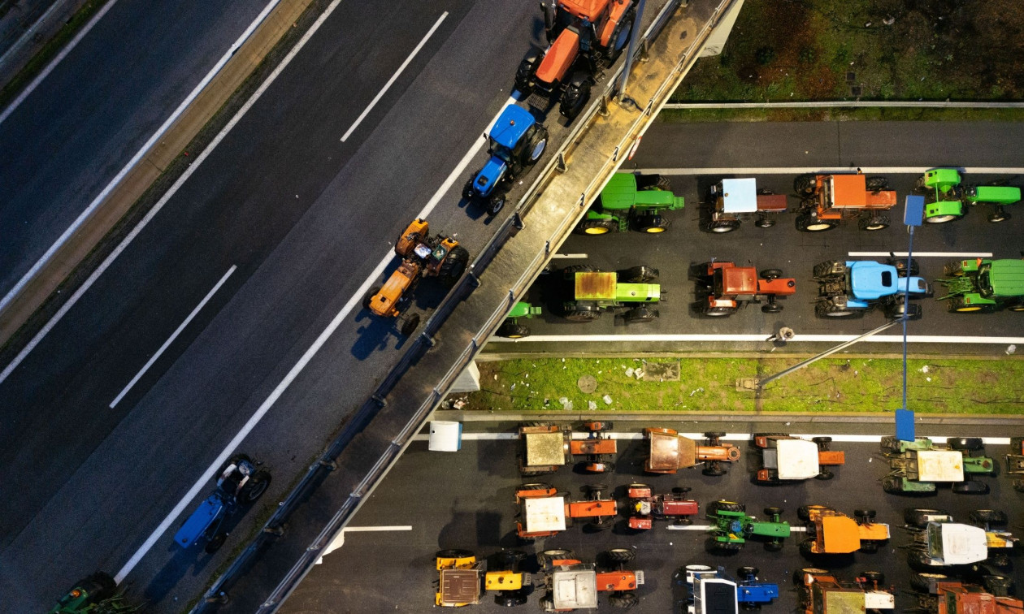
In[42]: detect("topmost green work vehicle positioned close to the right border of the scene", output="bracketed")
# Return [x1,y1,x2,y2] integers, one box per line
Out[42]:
[908,173,1021,230]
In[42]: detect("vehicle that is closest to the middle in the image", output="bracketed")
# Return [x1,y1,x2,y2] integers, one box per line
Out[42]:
[487,289,541,342]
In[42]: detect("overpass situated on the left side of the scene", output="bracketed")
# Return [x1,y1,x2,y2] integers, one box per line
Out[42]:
[0,0,744,614]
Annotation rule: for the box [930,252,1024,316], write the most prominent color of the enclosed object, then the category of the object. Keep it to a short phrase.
green work vehicle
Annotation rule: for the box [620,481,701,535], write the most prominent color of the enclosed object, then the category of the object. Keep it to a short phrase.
red work vehicle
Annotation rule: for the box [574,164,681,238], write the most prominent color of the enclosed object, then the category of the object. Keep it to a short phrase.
green work vehicle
